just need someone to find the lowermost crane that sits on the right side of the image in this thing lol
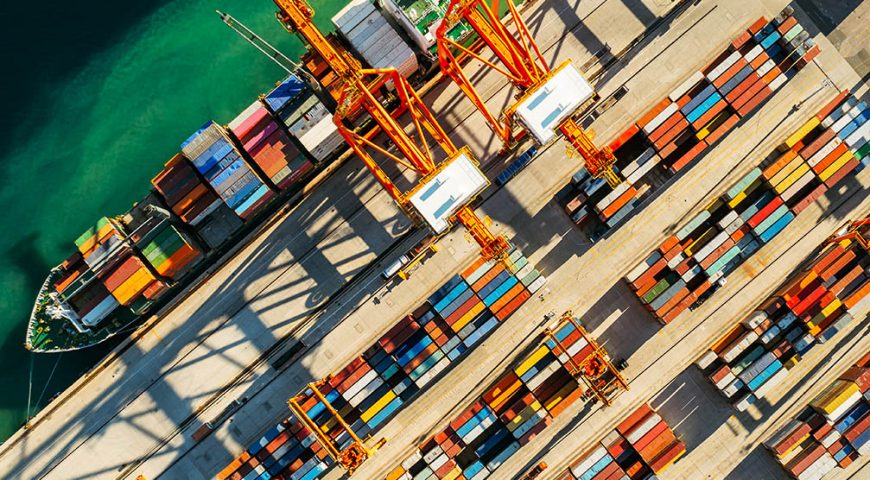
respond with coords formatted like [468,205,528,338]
[535,313,636,408]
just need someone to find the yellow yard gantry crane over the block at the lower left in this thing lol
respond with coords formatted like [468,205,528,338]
[286,373,399,477]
